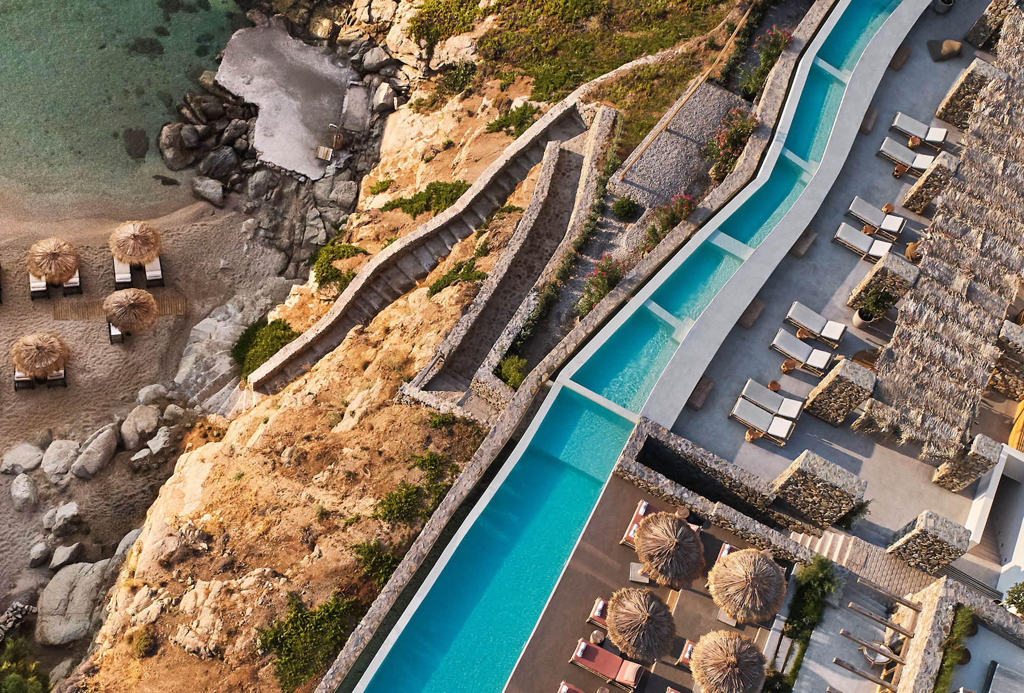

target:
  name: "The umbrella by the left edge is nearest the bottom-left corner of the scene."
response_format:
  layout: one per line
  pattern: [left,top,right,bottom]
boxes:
[8,330,75,384]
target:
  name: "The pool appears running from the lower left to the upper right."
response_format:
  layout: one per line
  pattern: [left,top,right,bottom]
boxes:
[352,0,932,693]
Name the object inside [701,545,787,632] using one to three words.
umbrella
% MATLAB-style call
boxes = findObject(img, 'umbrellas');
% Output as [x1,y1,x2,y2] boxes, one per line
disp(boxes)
[8,330,75,384]
[701,545,787,632]
[108,223,164,269]
[26,239,83,288]
[101,288,161,337]
[632,517,706,589]
[684,624,771,693]
[600,588,677,666]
